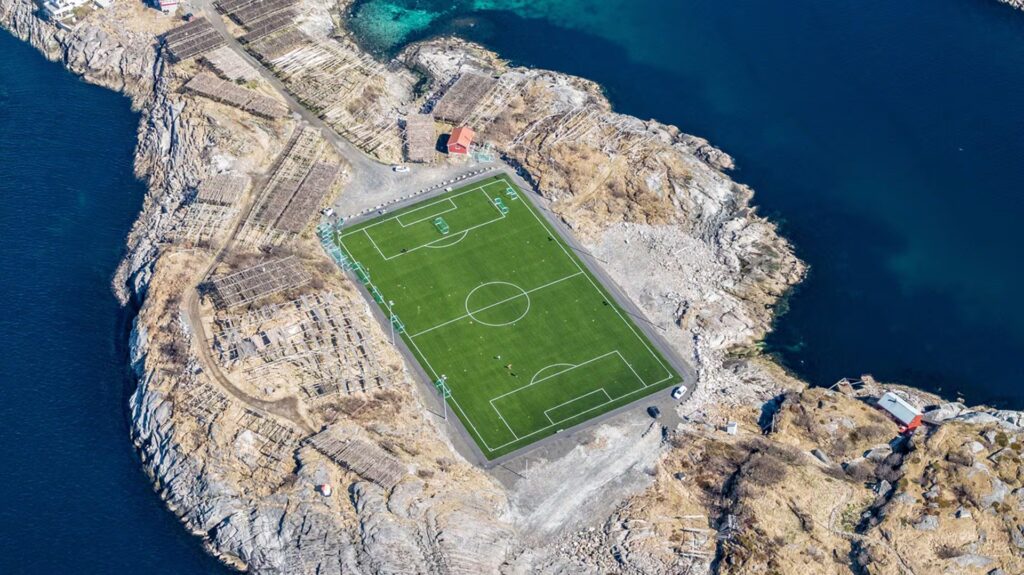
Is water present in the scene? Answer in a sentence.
Yes, there's water in this view.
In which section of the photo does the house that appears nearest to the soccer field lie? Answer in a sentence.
The house that appears nearest to the soccer field is located in the top region of the scene.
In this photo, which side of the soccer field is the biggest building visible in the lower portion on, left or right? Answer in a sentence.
Looking at the picture, you'll find the biggest building visible in the lower portion to the right of the soccer field.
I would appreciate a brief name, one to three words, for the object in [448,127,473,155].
house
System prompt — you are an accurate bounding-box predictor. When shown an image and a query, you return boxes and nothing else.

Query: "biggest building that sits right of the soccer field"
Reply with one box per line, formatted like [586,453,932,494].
[878,393,924,433]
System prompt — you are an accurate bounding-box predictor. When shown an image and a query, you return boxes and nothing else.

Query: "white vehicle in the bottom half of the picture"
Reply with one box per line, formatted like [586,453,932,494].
[674,385,687,398]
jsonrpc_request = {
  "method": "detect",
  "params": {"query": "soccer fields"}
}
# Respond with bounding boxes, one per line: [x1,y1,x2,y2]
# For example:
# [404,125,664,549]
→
[328,173,683,460]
